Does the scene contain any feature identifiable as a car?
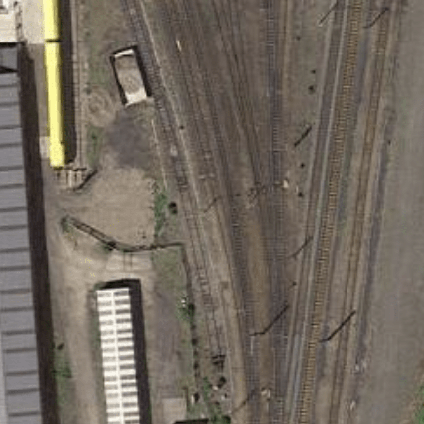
No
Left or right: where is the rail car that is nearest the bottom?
left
